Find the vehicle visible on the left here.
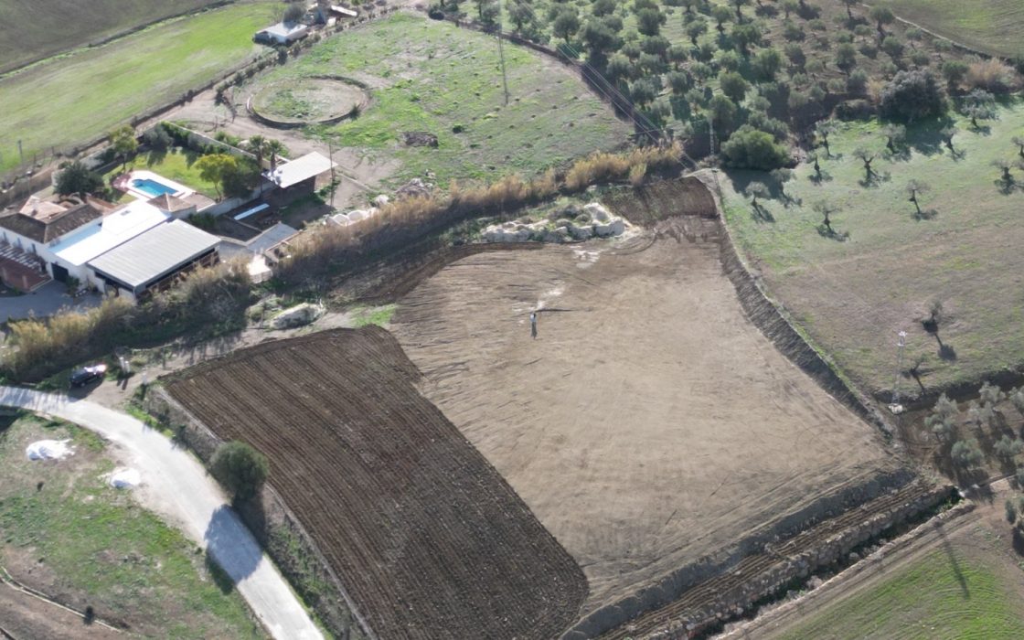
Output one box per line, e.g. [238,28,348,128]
[66,364,108,388]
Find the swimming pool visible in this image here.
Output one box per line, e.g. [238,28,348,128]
[116,169,197,201]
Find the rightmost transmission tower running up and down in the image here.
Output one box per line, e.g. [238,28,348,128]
[890,325,918,421]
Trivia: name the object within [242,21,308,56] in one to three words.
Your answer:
barn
